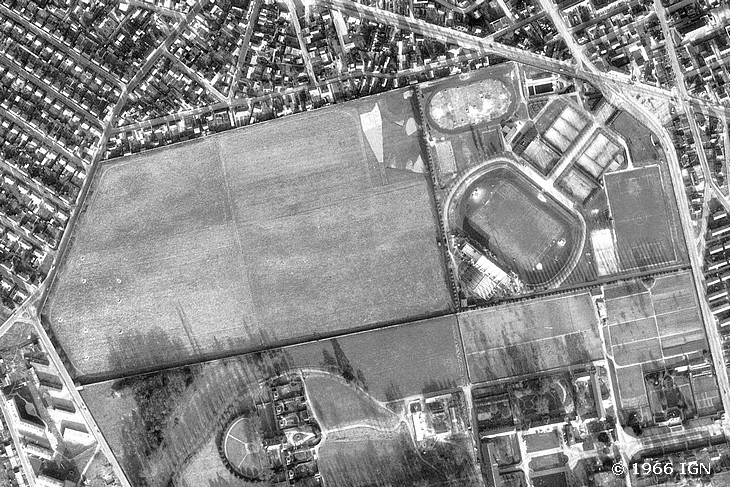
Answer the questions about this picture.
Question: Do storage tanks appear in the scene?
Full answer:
No, no storage tank is visible in the view.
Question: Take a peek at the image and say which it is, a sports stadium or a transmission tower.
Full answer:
There is a sports stadium in the scene.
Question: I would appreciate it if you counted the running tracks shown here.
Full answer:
My tally gives 2 running tracks in this view.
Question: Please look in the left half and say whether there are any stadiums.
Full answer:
No, I see no stadium in the left half.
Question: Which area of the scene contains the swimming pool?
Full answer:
Look in the top right portion of the view to spot the swimming pool.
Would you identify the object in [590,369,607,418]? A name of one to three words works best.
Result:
shed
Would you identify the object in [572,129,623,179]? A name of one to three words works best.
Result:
sports court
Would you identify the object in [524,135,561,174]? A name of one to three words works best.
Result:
sports court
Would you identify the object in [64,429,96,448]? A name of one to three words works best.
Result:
building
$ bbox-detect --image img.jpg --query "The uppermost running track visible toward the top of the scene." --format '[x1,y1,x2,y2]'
[423,71,517,137]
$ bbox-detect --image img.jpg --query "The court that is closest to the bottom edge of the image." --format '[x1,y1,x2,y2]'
[588,225,620,280]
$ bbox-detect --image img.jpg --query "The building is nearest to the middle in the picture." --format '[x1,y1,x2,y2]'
[460,265,497,299]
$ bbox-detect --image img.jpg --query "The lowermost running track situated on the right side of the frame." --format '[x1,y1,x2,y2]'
[460,173,573,277]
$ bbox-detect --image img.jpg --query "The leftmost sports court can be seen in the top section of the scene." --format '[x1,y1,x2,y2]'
[433,138,460,176]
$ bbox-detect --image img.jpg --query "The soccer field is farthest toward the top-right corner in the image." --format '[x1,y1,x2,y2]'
[605,165,677,272]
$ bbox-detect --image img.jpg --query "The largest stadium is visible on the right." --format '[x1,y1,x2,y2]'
[451,163,582,287]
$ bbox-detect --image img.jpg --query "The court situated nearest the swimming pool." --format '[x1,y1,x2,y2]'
[540,103,592,156]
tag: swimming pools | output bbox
[525,76,557,98]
